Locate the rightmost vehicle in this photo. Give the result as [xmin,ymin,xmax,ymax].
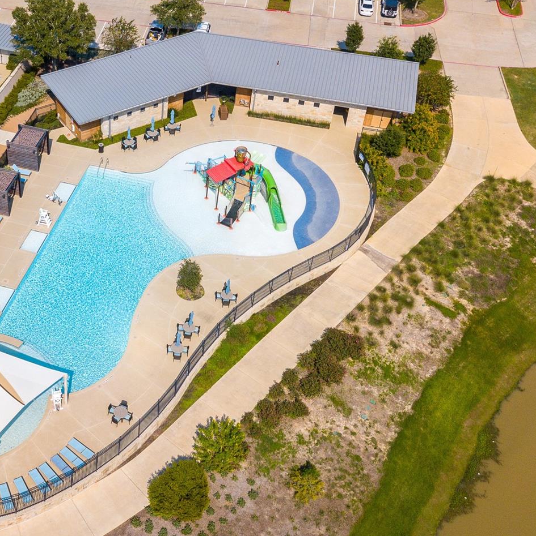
[381,0,399,17]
